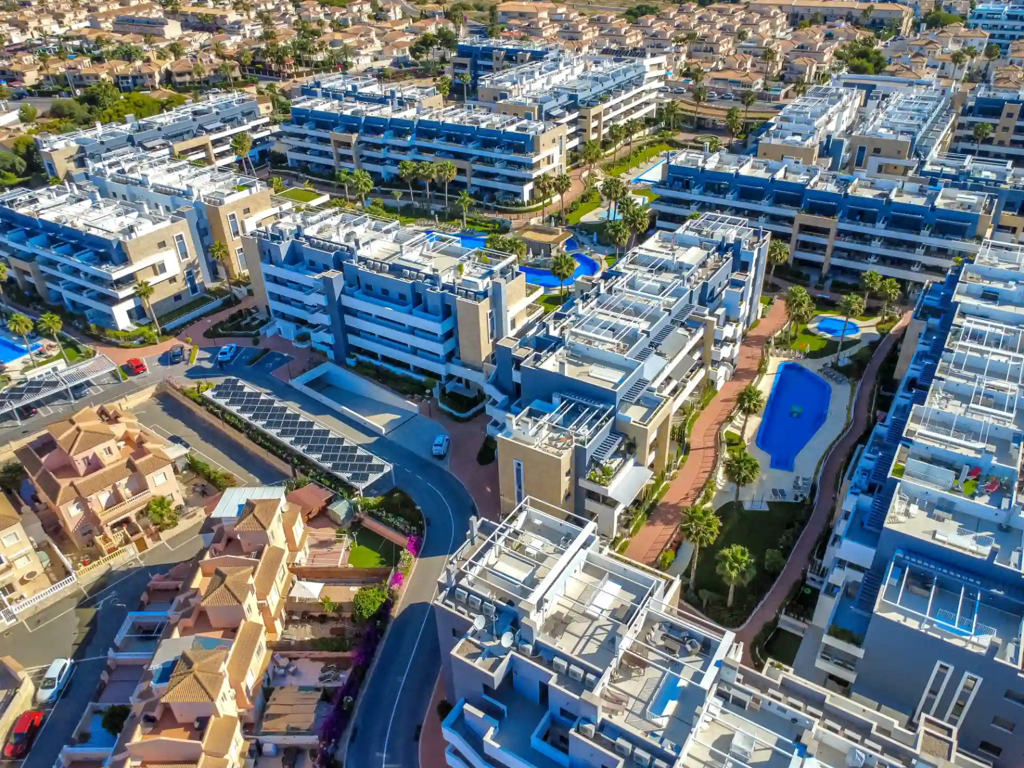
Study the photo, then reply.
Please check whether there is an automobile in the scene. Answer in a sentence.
Yes, I can see an automobile in this picture.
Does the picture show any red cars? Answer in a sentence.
Yes, the image includes a red car.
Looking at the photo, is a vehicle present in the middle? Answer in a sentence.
Yes, you'll find a vehicle in the middle.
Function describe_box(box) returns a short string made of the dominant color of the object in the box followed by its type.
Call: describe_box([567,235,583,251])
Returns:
blue swimming pool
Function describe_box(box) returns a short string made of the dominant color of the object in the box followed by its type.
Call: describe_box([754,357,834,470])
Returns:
blue swimming pool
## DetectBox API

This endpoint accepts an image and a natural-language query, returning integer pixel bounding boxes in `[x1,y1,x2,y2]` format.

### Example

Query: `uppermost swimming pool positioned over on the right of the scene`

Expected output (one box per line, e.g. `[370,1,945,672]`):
[632,152,682,183]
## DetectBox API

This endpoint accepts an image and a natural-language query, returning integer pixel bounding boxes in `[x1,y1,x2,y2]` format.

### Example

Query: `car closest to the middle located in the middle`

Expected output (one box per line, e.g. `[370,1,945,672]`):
[429,433,452,456]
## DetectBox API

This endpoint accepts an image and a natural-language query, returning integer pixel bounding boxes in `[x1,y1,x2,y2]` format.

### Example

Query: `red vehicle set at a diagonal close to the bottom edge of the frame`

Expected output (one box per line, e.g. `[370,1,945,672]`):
[0,708,43,759]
